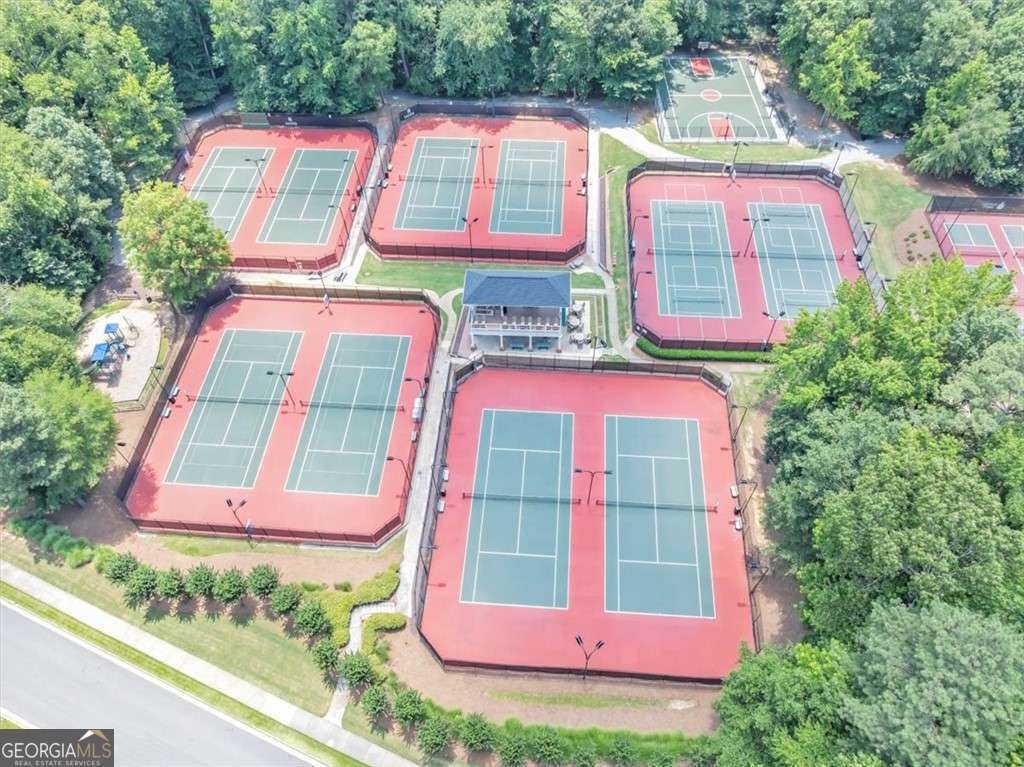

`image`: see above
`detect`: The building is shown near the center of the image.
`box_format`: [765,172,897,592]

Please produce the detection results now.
[462,269,571,353]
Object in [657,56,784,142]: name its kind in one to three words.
basketball court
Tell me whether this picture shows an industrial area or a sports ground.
sports ground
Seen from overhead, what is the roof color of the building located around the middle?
blue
